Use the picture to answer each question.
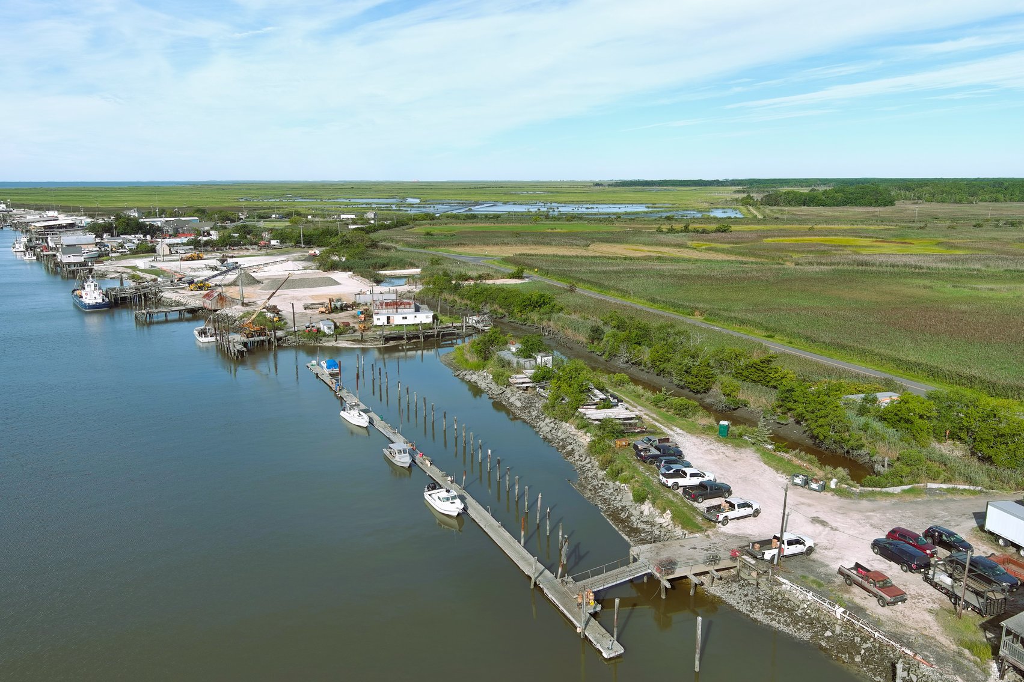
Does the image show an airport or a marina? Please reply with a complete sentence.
It's a marina.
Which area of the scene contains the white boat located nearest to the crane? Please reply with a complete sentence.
The white boat located nearest to the crane is in the left part of the image.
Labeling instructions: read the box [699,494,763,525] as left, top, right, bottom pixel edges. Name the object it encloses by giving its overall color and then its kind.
white truck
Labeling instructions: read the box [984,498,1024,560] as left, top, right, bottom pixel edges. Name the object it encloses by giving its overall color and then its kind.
white vehicle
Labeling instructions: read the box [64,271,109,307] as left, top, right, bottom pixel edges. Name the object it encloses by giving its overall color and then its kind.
white boat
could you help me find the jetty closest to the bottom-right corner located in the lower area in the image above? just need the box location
[629,533,743,603]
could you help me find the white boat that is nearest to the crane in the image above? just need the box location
[195,323,218,345]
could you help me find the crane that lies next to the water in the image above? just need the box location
[236,273,294,340]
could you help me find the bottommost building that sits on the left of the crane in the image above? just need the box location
[200,291,240,311]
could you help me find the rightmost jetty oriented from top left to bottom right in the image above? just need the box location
[308,363,624,659]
